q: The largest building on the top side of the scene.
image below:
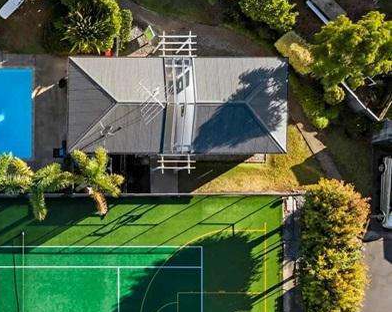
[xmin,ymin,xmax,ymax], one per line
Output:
[64,55,288,163]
